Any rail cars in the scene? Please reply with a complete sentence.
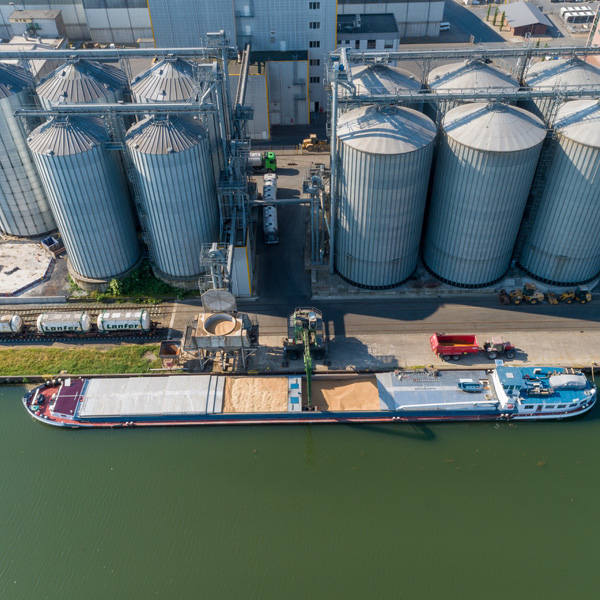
Yes, the frame does contain a rail car.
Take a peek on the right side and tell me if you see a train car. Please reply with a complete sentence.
No, no train car can be made out on the right side.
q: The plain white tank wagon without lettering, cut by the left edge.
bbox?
[0,312,39,338]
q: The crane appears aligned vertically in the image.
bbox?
[281,307,331,410]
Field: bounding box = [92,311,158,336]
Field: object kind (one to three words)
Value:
rail car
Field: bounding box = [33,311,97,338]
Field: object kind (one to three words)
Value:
rail car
